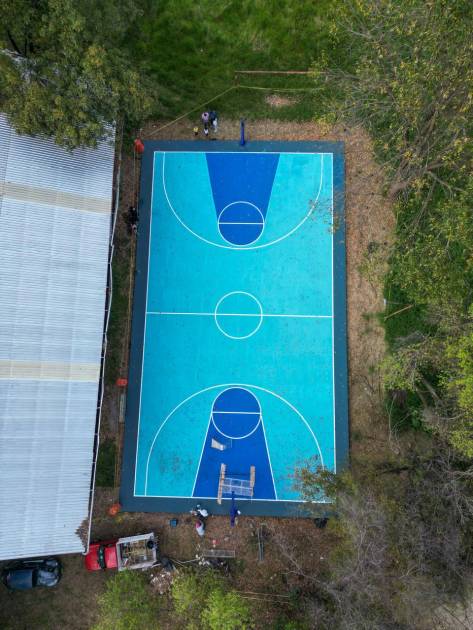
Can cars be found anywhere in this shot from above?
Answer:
Yes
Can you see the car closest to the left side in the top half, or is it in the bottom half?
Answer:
bottom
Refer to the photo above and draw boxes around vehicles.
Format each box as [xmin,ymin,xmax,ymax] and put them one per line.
[81,532,162,575]
[1,557,63,593]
